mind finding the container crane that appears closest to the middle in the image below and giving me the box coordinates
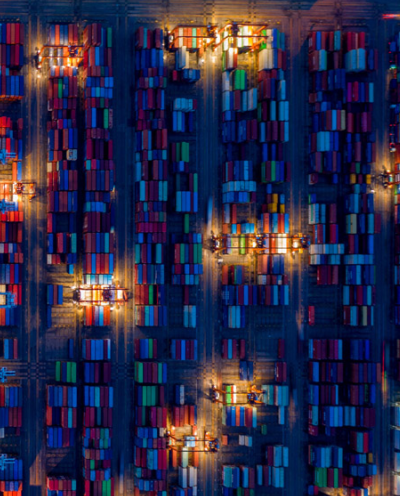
[212,235,271,253]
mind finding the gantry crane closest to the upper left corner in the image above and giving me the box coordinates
[35,44,86,70]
